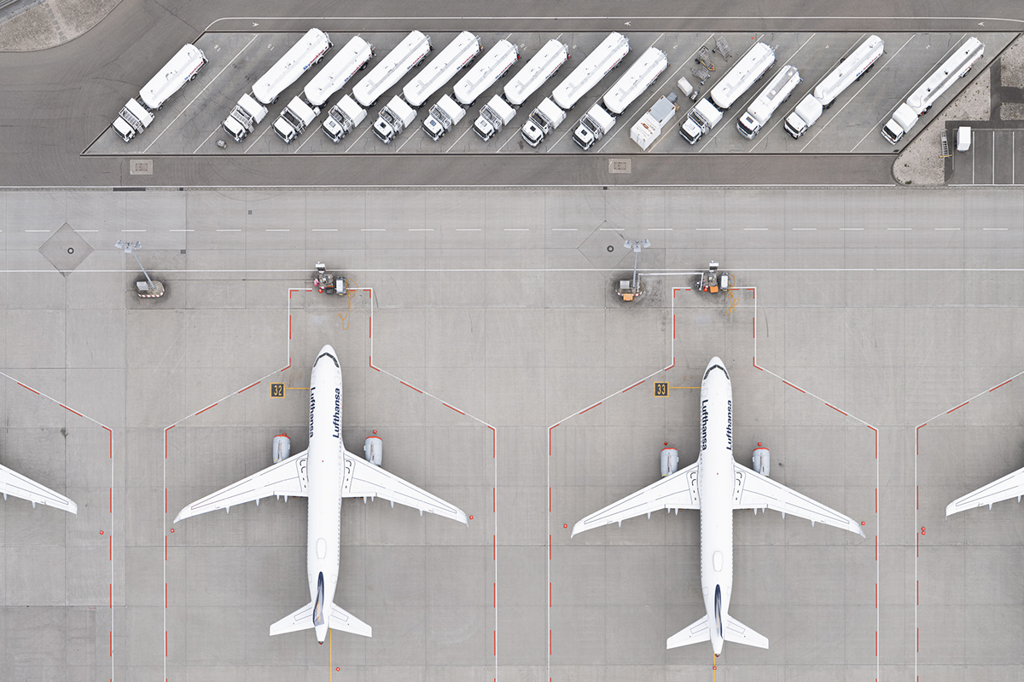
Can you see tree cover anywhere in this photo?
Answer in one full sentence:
No, no tree cover is visible.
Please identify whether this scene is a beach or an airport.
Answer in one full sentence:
This image shows an airport.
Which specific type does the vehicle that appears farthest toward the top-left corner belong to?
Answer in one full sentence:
The vehicle that appears farthest toward the top-left corner in the image is a truck.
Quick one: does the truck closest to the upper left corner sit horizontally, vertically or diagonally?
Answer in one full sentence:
In this picture, the truck closest to the upper left corner lies diagonally.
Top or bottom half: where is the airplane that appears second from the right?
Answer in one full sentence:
Seen from above, the airplane that appears second from the right lies in the bottom half of the view.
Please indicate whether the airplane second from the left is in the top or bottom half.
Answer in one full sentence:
It is in the bottom half that the airplane second from the left appears.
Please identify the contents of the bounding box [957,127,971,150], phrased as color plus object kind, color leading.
white vehicle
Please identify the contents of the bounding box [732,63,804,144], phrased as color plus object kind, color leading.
white truck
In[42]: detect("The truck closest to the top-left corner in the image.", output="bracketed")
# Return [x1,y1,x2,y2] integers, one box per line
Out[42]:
[108,43,206,147]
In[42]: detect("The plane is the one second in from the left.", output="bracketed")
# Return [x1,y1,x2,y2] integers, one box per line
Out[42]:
[175,346,468,646]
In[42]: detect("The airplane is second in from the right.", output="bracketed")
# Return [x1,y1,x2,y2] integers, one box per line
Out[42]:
[571,358,865,657]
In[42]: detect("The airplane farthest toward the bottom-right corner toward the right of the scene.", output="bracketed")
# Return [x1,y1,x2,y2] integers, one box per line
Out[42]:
[946,466,1024,517]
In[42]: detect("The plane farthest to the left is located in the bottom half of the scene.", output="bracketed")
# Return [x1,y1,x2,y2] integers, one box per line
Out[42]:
[0,463,78,514]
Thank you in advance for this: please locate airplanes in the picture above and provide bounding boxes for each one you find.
[175,346,468,646]
[571,358,865,657]
[0,463,78,514]
[946,466,1024,517]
